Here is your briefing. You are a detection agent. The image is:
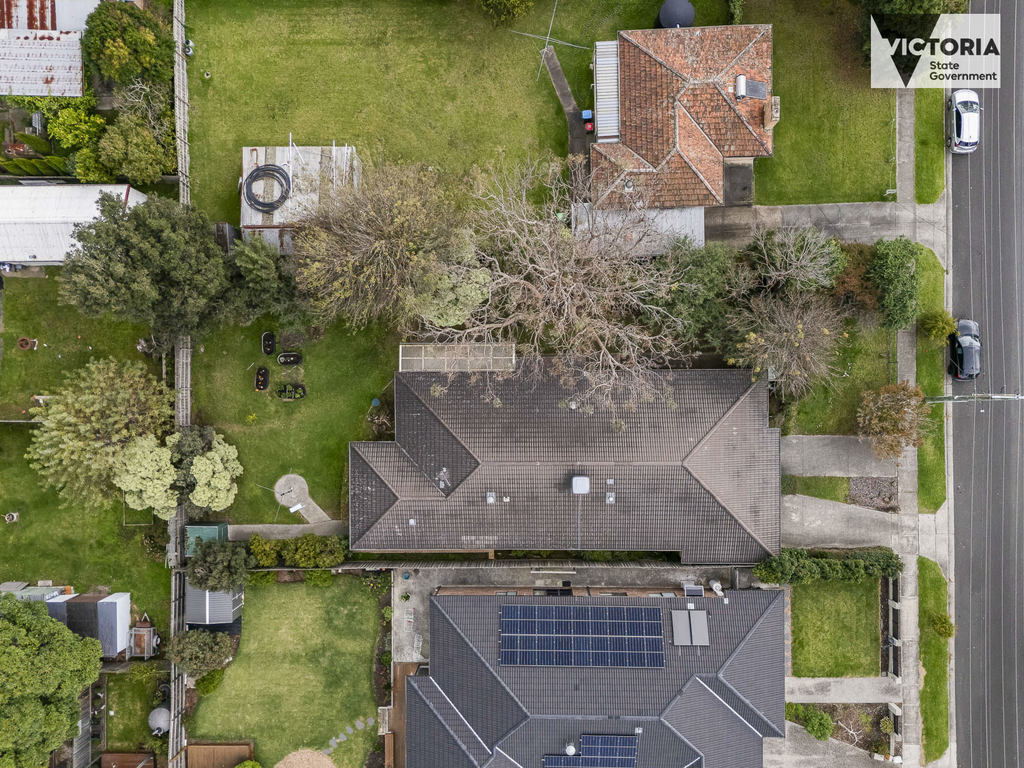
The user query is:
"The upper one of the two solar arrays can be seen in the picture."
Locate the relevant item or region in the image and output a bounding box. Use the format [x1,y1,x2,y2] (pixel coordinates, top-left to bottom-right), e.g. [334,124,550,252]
[498,605,666,668]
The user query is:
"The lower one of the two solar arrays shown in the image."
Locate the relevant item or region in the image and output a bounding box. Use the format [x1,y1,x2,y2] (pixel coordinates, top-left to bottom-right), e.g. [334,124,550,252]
[542,736,639,768]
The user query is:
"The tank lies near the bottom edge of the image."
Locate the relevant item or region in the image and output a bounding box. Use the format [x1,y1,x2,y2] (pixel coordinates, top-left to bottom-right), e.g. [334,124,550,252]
[141,707,173,741]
